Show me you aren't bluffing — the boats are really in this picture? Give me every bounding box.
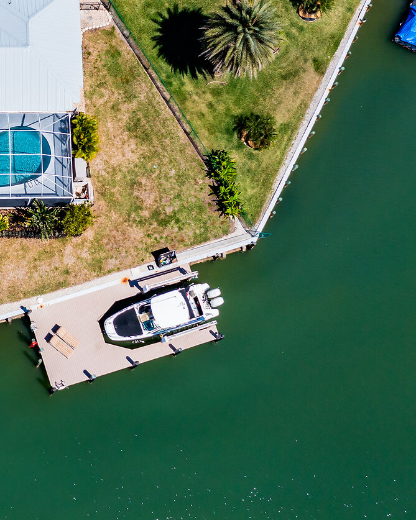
[104,286,221,336]
[390,5,416,52]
